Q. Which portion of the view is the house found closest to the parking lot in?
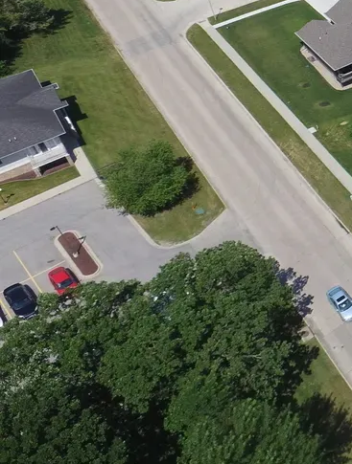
top left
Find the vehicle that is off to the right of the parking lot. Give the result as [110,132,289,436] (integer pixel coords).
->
[323,284,352,325]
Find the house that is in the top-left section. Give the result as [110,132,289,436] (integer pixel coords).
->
[0,69,75,185]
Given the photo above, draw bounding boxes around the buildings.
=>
[0,69,75,185]
[294,0,352,95]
